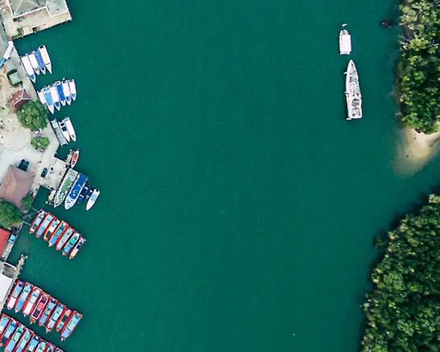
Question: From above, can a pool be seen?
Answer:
No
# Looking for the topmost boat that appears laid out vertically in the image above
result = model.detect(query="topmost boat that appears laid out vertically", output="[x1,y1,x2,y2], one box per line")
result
[338,27,351,55]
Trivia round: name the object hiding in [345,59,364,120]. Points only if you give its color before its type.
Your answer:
white ship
